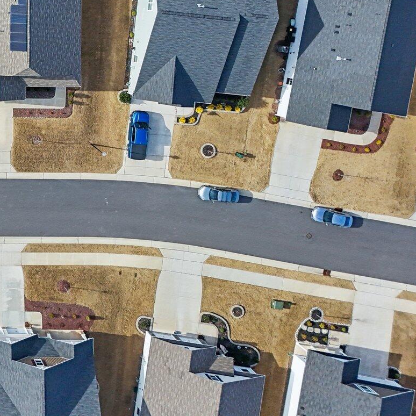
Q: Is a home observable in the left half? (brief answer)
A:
Yes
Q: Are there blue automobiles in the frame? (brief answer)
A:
Yes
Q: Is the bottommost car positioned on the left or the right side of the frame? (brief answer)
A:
right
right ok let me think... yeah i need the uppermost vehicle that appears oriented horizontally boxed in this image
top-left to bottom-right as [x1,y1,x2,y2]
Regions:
[197,184,240,204]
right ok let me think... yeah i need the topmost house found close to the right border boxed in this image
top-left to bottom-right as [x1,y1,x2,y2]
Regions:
[277,0,416,132]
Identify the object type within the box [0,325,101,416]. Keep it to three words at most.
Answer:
house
